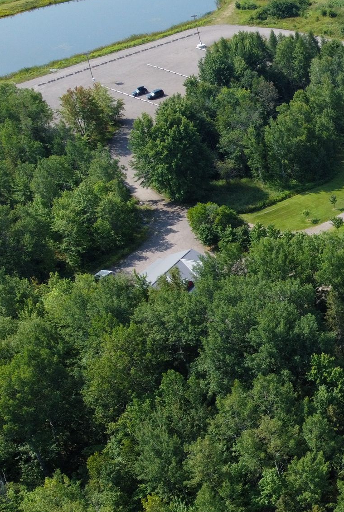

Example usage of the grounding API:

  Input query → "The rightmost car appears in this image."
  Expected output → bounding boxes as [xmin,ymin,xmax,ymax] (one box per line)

[146,87,165,100]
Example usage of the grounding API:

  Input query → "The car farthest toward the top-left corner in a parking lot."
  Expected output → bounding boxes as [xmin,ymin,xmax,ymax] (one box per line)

[129,82,148,96]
